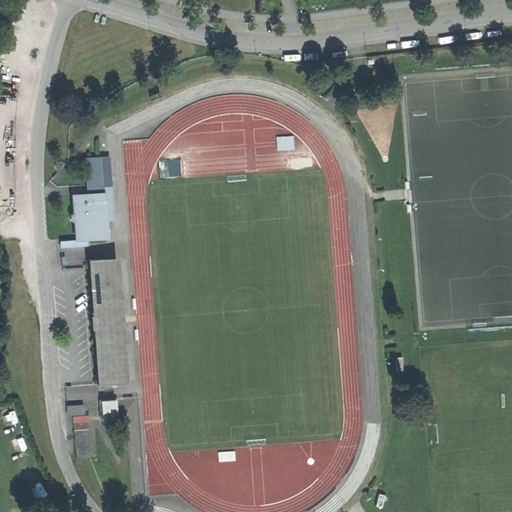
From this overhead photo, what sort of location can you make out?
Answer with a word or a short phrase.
sports ground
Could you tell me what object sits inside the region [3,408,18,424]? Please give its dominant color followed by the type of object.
white camper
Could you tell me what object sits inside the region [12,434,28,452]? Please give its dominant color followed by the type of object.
white camper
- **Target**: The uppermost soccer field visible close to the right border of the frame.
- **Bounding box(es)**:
[402,67,512,330]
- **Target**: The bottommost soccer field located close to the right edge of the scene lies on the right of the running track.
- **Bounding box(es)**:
[419,338,512,512]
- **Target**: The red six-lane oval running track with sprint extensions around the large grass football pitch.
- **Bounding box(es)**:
[123,95,362,512]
